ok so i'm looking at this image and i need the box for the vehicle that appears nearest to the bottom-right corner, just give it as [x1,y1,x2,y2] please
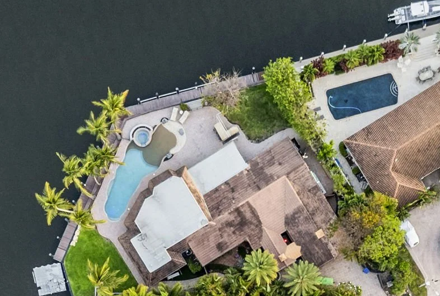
[402,219,424,248]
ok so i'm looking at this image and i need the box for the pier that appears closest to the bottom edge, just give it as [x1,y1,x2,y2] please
[35,263,68,296]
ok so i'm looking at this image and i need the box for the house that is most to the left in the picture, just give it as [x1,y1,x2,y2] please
[118,136,338,288]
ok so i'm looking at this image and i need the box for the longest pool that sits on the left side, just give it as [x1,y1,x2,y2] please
[103,121,179,224]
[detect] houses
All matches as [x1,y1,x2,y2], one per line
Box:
[118,136,338,288]
[343,80,440,205]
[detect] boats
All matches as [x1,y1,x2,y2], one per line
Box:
[385,0,440,26]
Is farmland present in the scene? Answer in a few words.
No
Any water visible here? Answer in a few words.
Yes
